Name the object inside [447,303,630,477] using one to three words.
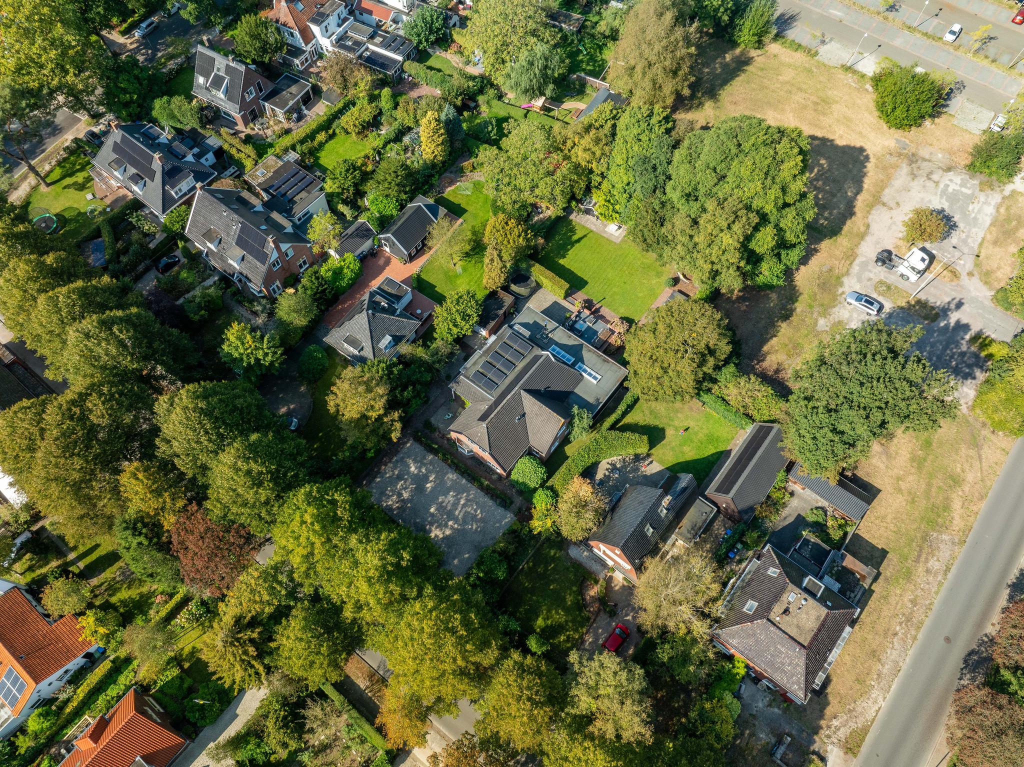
house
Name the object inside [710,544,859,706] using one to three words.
house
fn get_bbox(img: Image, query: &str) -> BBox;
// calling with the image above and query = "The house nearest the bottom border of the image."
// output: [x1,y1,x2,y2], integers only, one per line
[55,687,193,767]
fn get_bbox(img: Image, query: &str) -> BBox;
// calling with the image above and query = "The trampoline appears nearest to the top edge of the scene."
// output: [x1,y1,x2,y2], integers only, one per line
[24,204,60,234]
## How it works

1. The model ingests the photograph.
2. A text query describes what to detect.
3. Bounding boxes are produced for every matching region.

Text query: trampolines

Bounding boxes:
[24,204,60,234]
[508,269,538,302]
